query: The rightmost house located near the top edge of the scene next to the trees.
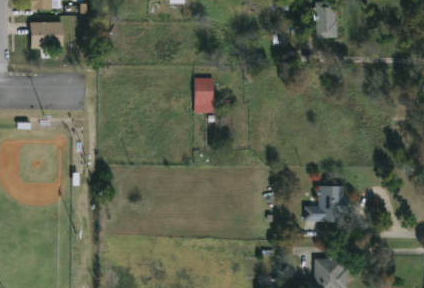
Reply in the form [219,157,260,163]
[316,2,337,38]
